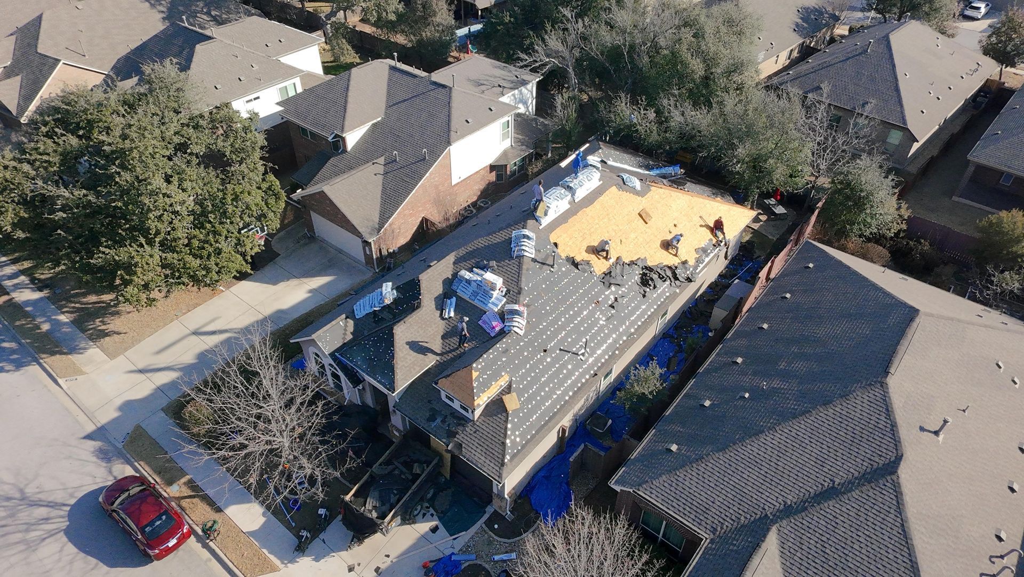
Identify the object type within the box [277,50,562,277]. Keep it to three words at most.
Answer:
house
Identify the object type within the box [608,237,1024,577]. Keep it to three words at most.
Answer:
house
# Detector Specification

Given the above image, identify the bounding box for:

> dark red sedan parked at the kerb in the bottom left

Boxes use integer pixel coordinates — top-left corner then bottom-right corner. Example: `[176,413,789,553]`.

[101,476,187,561]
